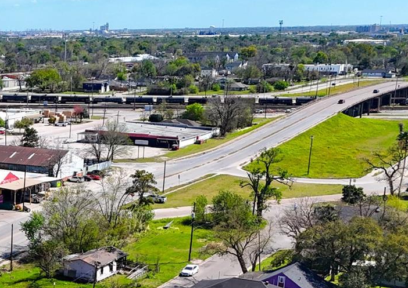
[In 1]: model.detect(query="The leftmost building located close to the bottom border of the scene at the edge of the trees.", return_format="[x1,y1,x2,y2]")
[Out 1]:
[64,249,120,283]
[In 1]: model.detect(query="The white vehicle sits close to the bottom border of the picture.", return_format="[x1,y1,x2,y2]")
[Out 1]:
[178,262,201,276]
